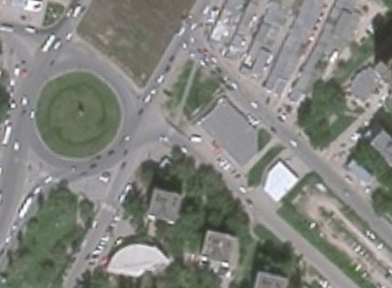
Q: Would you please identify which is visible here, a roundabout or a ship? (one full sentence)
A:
Of the two, only a roundabout appears.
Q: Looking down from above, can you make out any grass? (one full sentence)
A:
Yes, the picture does contain grass.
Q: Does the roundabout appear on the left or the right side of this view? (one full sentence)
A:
The roundabout appears in the left half of the scene.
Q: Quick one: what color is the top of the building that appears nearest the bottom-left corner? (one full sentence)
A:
The roof over the building that appears nearest the bottom-left corner appears white.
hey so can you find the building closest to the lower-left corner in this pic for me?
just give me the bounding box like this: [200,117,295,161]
[107,244,171,278]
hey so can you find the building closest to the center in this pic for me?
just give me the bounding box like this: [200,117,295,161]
[196,97,260,169]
